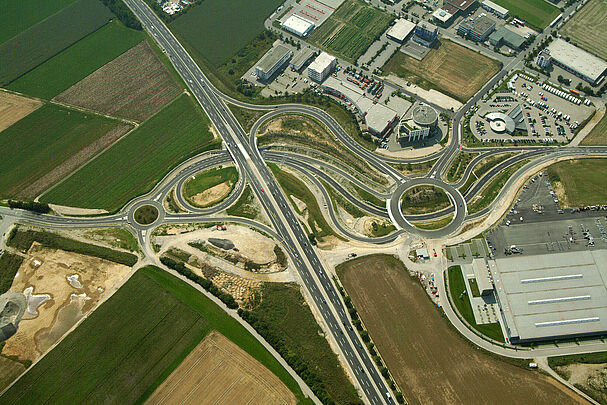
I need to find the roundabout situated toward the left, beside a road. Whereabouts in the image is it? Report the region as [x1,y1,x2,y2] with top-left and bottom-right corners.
[128,200,165,229]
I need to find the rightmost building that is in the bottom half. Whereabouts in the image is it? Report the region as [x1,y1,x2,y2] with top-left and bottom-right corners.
[493,249,607,342]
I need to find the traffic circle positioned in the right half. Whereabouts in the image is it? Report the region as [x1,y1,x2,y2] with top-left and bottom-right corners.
[388,177,469,239]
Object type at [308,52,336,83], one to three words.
building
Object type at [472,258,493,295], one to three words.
building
